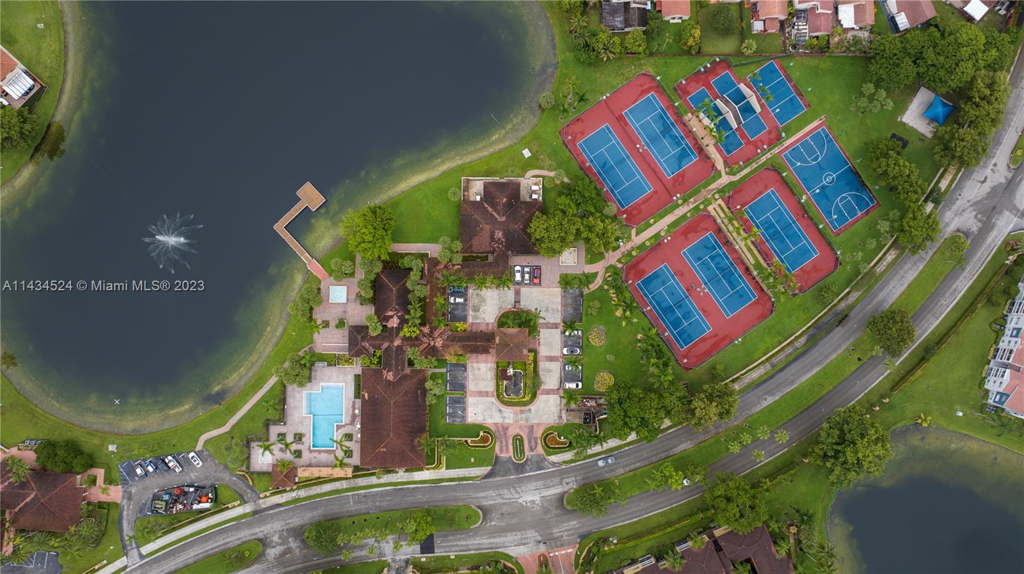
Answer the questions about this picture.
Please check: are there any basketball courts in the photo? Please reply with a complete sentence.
Yes, looking at the shot, I can spot a basketball court.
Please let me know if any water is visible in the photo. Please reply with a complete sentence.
Yes, there is water in the image.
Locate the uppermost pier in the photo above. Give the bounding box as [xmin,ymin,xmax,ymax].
[273,182,330,280]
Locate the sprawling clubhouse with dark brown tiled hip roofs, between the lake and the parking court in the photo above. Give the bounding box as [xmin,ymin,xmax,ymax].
[348,181,543,468]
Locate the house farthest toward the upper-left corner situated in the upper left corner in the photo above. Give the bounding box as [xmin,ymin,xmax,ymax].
[0,44,40,108]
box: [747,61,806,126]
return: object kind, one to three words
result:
sports court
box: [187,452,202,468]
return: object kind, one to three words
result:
car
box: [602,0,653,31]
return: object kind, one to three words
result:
house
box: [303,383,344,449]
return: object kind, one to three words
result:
swimming pool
